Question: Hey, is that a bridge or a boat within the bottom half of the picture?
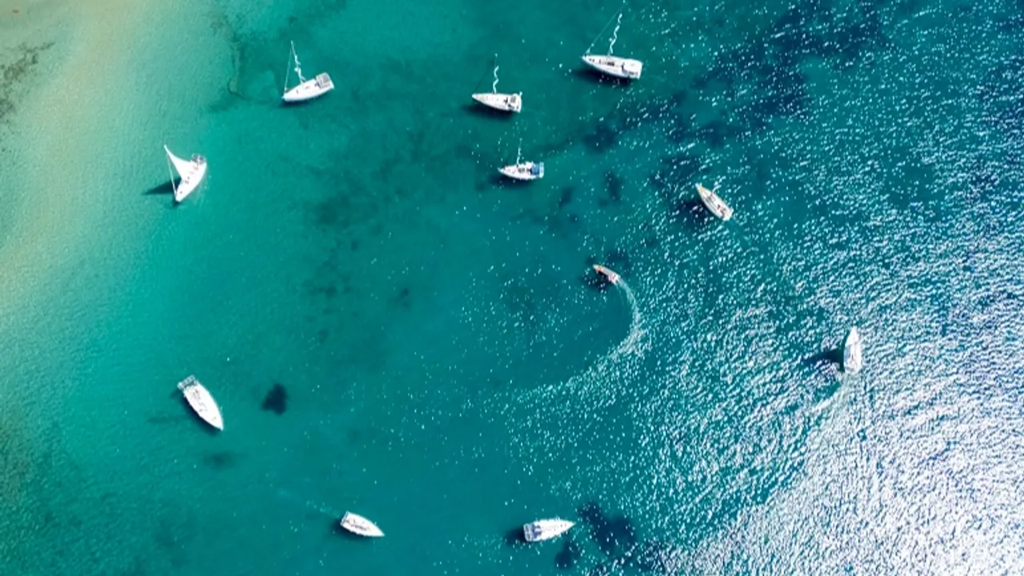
boat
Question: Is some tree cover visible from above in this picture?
No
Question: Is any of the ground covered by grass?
No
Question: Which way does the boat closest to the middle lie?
at an angle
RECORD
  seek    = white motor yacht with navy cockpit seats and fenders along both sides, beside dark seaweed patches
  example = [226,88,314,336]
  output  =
[518,517,575,542]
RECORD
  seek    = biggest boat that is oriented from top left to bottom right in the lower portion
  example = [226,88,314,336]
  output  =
[179,379,225,431]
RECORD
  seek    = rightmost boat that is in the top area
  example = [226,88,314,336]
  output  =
[696,170,736,222]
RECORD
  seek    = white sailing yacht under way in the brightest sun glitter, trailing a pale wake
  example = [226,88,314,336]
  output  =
[842,321,886,377]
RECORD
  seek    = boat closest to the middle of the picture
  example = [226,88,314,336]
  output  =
[594,265,621,286]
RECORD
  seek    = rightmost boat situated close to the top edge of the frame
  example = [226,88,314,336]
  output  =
[581,4,643,80]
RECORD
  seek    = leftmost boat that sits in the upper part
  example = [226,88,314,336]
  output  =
[163,144,210,204]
